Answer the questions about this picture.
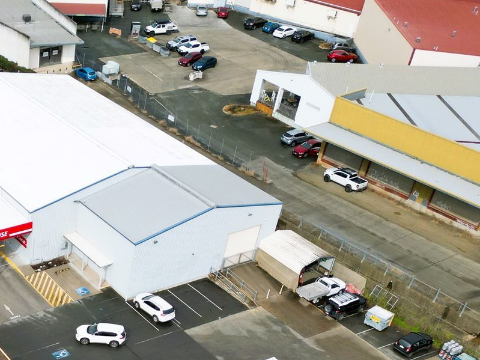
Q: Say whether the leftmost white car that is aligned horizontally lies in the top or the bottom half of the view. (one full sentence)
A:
The leftmost white car that is aligned horizontally sits in the bottom half of the picture.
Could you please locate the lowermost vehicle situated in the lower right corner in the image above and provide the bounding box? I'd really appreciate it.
[394,328,437,355]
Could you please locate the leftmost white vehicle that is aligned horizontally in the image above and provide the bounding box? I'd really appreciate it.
[77,323,126,348]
